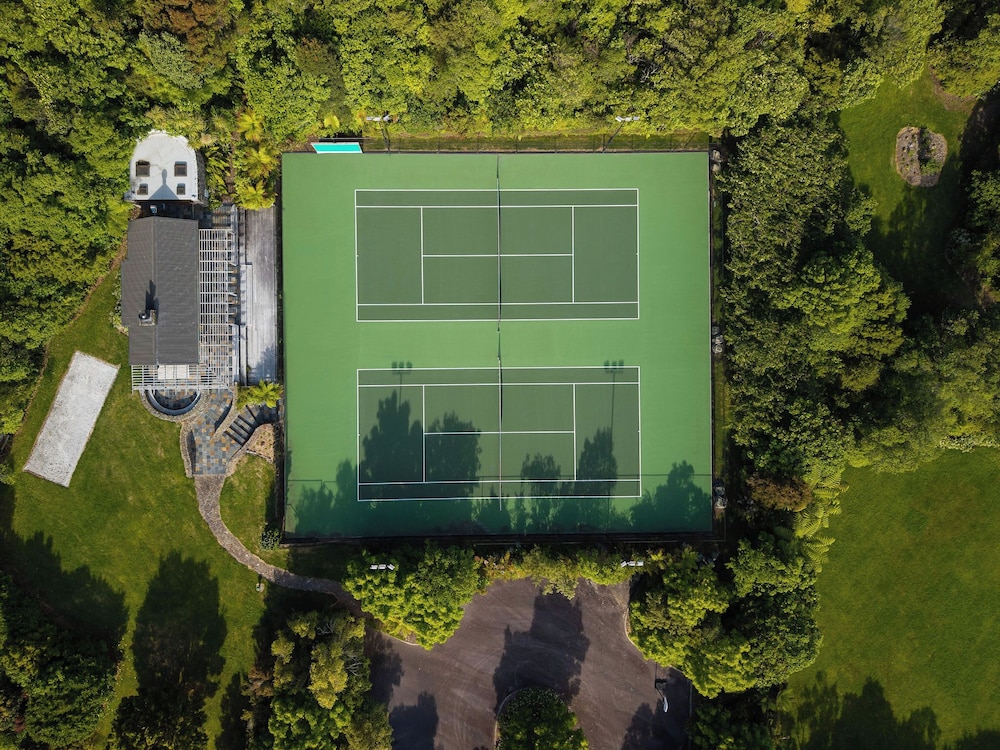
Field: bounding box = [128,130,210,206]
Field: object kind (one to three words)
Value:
building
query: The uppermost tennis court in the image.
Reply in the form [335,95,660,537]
[356,188,640,321]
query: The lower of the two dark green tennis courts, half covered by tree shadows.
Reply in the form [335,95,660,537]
[357,366,641,500]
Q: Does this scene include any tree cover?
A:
Yes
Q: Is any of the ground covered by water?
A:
No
